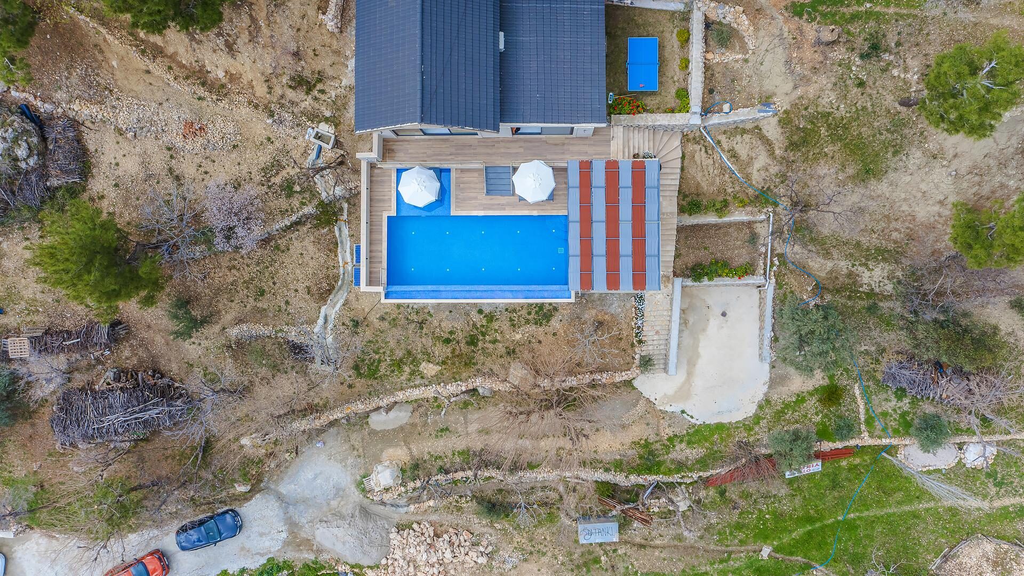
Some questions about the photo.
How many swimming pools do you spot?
one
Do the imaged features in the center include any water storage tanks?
No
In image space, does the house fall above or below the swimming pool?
above it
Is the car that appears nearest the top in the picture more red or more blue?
blue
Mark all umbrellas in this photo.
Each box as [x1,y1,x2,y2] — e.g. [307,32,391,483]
[400,167,442,210]
[512,161,555,205]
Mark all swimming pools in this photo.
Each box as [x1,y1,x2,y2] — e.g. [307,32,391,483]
[381,169,575,303]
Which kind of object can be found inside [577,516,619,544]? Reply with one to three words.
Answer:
water tank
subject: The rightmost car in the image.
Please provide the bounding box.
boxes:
[175,505,249,550]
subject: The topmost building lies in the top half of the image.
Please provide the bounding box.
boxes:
[354,0,608,139]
